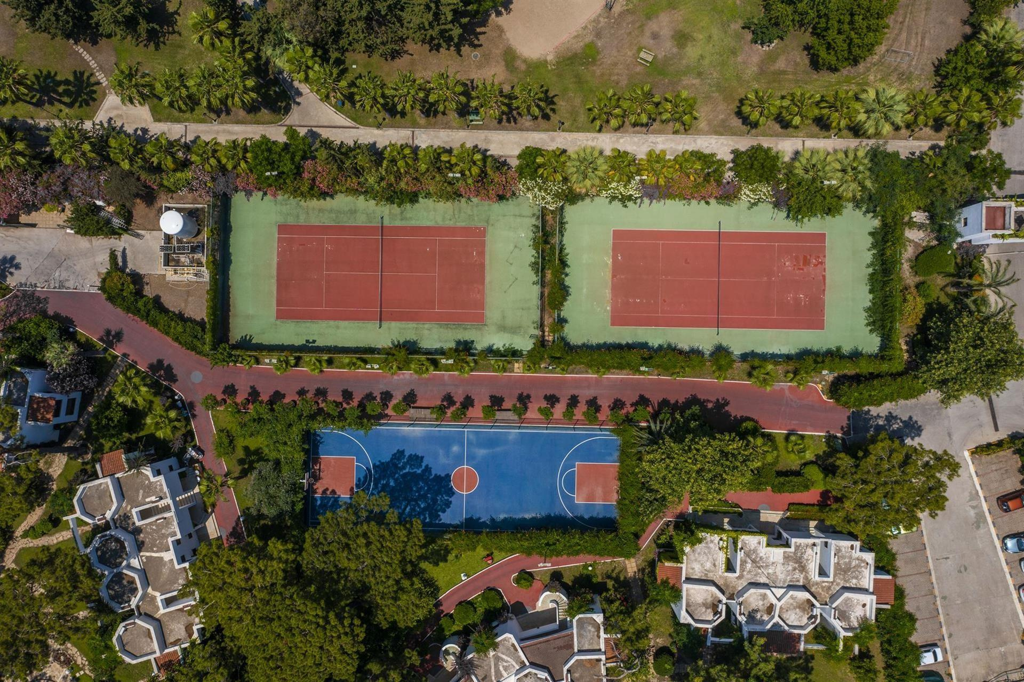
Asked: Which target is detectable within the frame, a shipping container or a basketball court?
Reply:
basketball court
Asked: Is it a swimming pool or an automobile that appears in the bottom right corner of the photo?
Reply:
automobile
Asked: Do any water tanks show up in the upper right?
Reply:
No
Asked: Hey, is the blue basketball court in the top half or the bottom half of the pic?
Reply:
bottom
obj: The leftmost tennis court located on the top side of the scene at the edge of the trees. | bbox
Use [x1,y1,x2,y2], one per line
[229,188,538,355]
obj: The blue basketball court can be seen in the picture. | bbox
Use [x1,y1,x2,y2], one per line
[305,422,623,533]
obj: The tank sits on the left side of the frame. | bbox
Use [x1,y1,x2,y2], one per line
[160,210,197,239]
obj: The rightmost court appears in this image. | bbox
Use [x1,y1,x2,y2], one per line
[555,195,878,359]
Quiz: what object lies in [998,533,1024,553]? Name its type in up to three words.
car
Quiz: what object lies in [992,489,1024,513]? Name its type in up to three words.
car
